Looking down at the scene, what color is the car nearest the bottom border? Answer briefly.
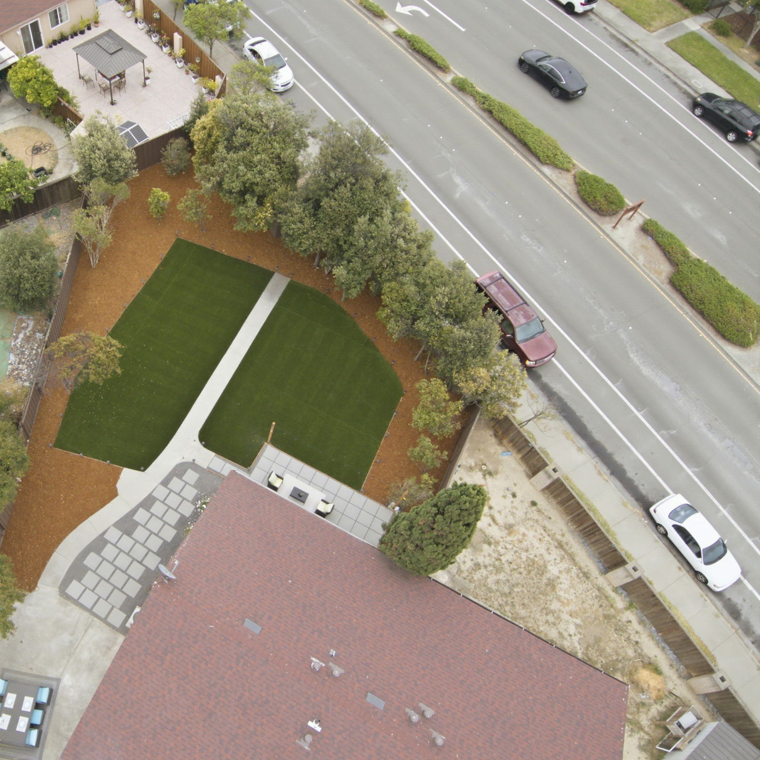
white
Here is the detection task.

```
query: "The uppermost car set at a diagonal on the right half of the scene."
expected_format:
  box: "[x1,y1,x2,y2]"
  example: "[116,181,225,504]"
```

[516,47,590,103]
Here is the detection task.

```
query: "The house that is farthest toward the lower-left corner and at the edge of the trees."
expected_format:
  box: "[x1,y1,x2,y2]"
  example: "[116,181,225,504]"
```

[61,468,629,760]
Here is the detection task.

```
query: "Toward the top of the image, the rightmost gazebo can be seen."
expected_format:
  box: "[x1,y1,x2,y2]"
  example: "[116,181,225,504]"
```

[73,30,147,104]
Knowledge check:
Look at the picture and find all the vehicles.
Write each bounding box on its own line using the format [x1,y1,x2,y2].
[692,89,760,147]
[231,28,294,90]
[516,47,590,103]
[558,0,602,19]
[471,261,563,367]
[651,499,746,599]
